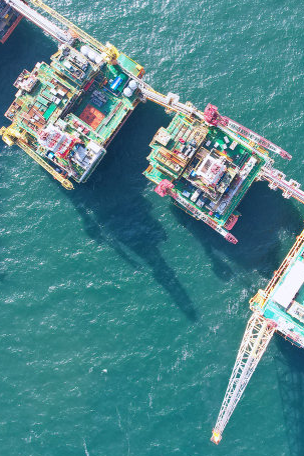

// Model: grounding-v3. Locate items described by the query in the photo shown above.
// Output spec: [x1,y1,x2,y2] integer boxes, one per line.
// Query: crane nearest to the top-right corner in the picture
[199,104,292,160]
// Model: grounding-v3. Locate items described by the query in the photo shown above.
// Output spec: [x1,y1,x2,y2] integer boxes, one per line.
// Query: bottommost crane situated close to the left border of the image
[0,125,72,188]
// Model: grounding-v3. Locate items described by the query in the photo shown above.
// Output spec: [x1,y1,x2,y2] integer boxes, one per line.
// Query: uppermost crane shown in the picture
[31,0,124,65]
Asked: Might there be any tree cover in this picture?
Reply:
No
